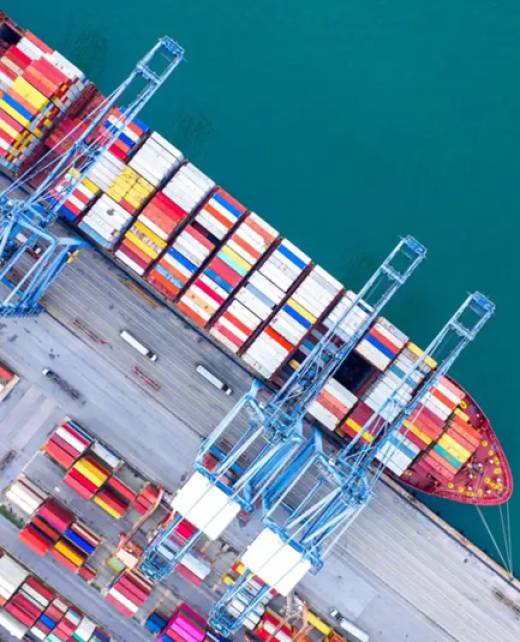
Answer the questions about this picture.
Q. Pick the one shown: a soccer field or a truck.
truck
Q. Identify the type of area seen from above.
port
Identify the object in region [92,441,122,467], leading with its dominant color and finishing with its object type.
white shipping container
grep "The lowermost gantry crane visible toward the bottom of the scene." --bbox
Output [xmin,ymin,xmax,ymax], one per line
[257,577,316,642]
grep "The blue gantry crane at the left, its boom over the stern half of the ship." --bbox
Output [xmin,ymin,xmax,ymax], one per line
[0,31,188,323]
